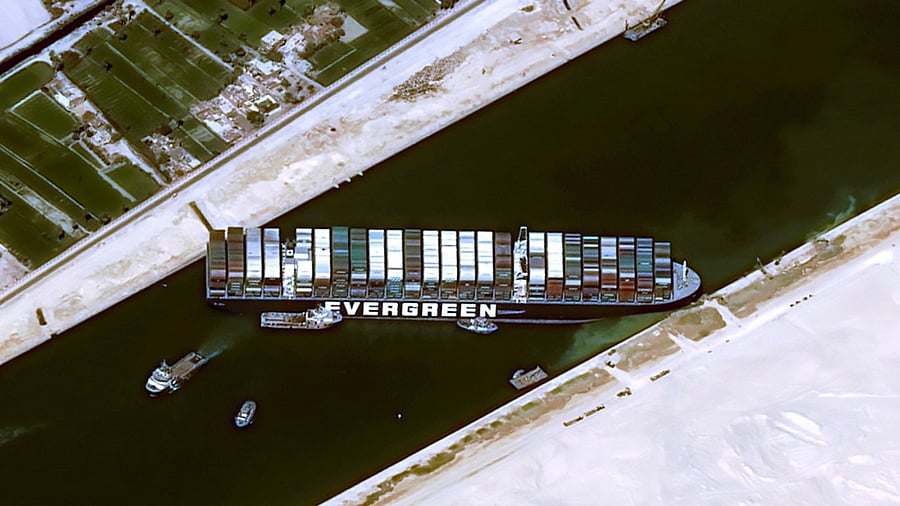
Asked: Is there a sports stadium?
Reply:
No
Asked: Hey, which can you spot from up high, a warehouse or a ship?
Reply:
ship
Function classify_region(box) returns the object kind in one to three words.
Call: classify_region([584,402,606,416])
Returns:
vehicle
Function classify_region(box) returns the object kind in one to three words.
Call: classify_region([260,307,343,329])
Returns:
ship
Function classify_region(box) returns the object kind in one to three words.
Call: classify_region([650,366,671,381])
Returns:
vehicle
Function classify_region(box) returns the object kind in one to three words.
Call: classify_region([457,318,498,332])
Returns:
boat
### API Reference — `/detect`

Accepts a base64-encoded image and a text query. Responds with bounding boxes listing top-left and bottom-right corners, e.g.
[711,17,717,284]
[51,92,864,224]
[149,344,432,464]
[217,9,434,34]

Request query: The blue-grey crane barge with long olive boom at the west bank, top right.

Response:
[624,0,664,43]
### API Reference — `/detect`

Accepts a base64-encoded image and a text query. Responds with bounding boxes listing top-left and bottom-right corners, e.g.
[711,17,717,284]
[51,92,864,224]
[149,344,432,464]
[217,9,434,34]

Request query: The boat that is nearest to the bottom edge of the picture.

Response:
[234,399,258,427]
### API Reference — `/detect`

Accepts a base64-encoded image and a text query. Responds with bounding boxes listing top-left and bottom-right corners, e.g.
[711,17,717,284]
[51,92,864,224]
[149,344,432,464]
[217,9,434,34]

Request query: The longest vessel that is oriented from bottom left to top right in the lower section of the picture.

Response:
[147,348,206,390]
